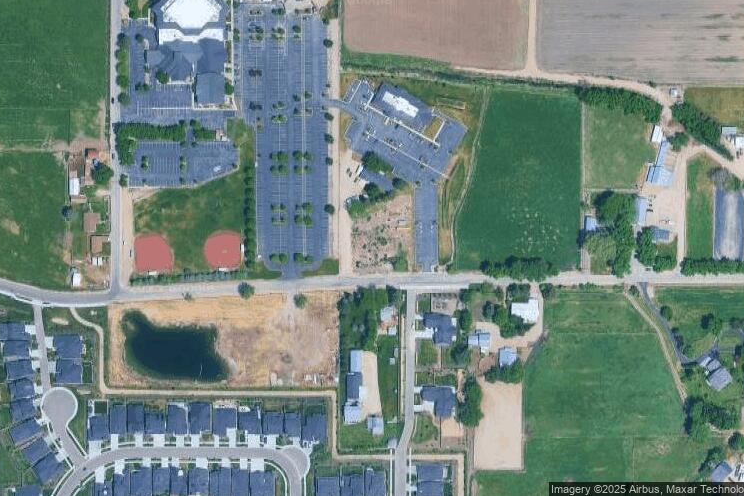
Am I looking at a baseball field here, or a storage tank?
baseball field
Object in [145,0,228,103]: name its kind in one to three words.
building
